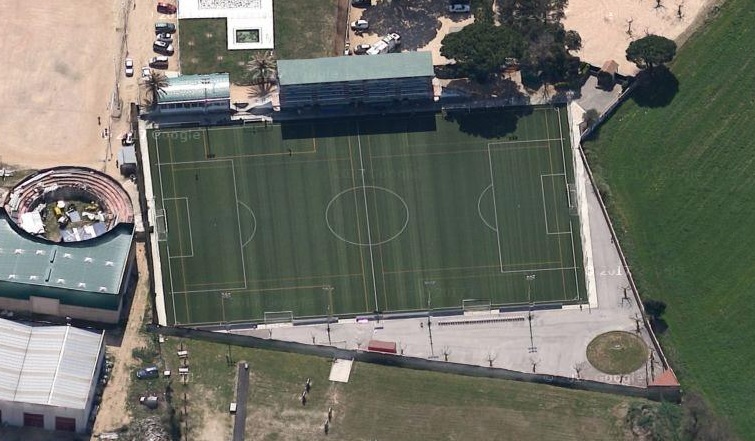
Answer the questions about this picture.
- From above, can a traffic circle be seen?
No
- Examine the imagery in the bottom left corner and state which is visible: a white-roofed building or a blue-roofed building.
white-roofed building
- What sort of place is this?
sports ground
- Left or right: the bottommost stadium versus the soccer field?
on its left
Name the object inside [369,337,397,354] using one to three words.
building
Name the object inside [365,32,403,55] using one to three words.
truck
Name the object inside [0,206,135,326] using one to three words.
building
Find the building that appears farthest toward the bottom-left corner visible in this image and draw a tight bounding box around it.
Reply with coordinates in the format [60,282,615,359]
[0,320,104,430]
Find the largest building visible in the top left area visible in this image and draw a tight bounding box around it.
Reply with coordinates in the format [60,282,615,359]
[157,74,230,114]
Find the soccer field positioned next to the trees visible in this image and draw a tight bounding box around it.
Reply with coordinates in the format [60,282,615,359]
[147,107,588,327]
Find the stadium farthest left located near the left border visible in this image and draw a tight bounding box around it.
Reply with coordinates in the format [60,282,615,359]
[3,166,135,241]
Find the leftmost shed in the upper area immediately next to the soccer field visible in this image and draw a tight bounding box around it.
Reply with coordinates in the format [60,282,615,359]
[118,145,137,173]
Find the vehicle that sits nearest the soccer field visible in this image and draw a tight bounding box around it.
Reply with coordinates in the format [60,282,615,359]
[122,134,134,147]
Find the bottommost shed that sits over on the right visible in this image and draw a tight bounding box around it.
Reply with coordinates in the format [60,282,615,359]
[647,368,680,395]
